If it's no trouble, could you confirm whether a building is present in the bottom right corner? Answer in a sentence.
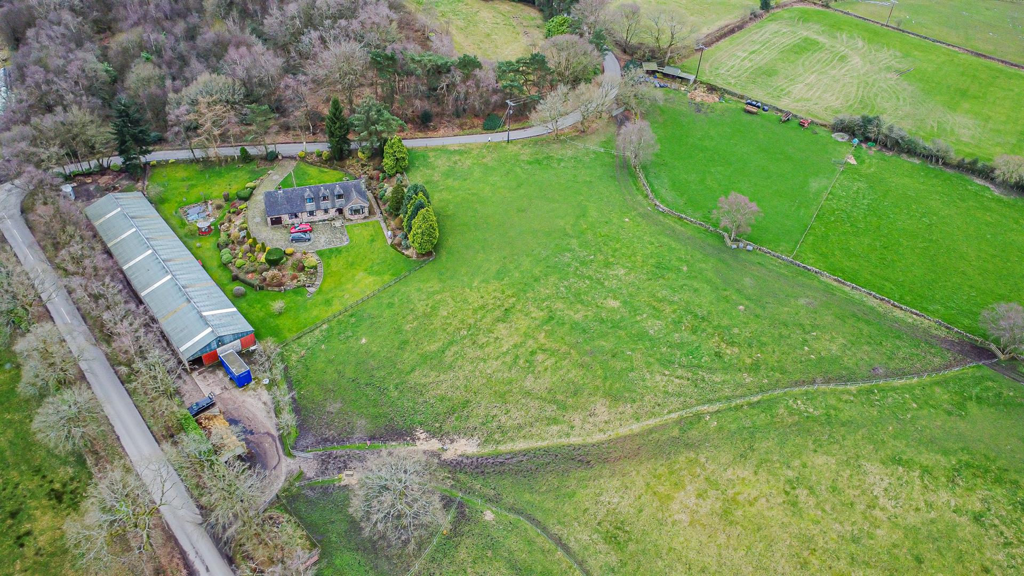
No, there's no building to be seen in the bottom right corner.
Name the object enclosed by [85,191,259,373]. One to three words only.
barn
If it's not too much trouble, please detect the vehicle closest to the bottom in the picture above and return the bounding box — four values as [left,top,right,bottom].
[188,395,221,421]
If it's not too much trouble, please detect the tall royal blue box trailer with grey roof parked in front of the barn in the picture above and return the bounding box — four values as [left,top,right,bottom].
[219,348,253,386]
